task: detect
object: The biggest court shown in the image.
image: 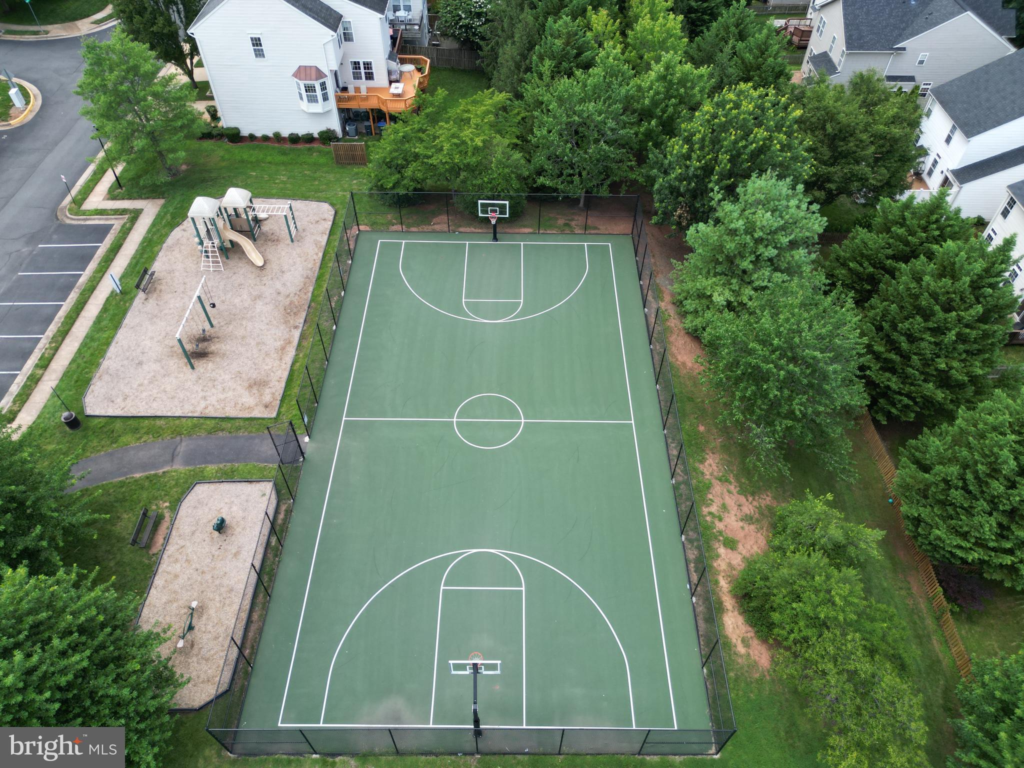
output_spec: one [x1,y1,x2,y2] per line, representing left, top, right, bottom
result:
[236,232,719,756]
